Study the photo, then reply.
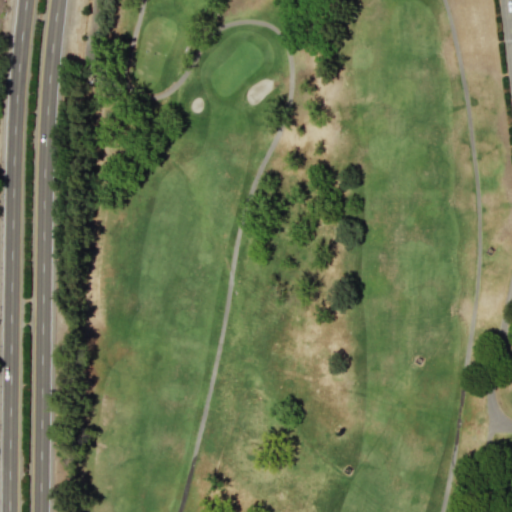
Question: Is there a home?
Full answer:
No, the frame has no home in it.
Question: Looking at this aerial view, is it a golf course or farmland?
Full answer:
The picture captures a golf course.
